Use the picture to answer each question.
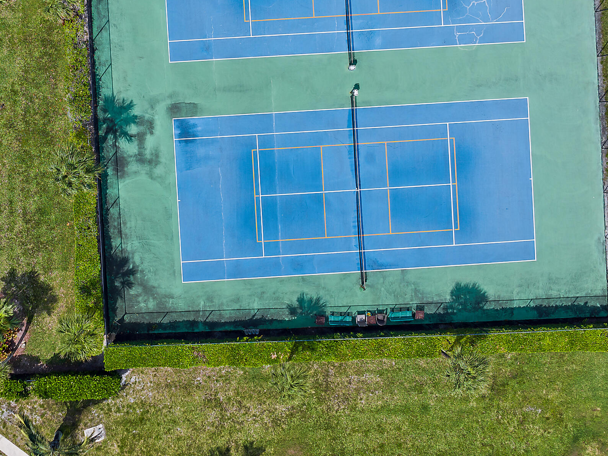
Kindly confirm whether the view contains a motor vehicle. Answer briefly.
No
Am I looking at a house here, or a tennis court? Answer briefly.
tennis court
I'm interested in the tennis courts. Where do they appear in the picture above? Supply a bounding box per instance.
[172,96,537,283]
[166,0,526,63]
